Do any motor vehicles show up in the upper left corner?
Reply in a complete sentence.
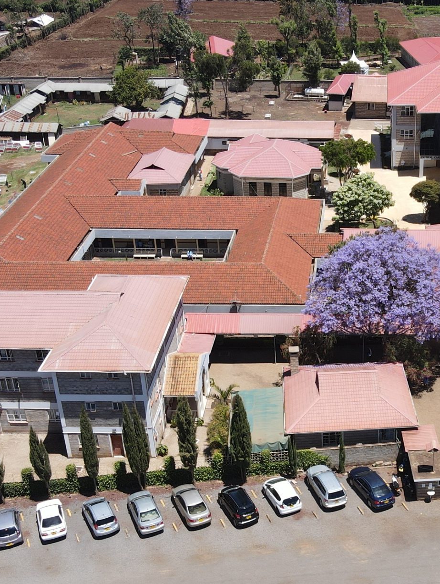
No, in the upper left corner there is no motor vehicle.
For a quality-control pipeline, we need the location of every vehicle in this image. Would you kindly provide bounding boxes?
[215,480,258,525]
[304,462,346,509]
[33,494,67,542]
[126,484,165,536]
[262,474,300,516]
[334,465,391,512]
[0,503,23,549]
[81,494,118,537]
[173,479,210,528]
